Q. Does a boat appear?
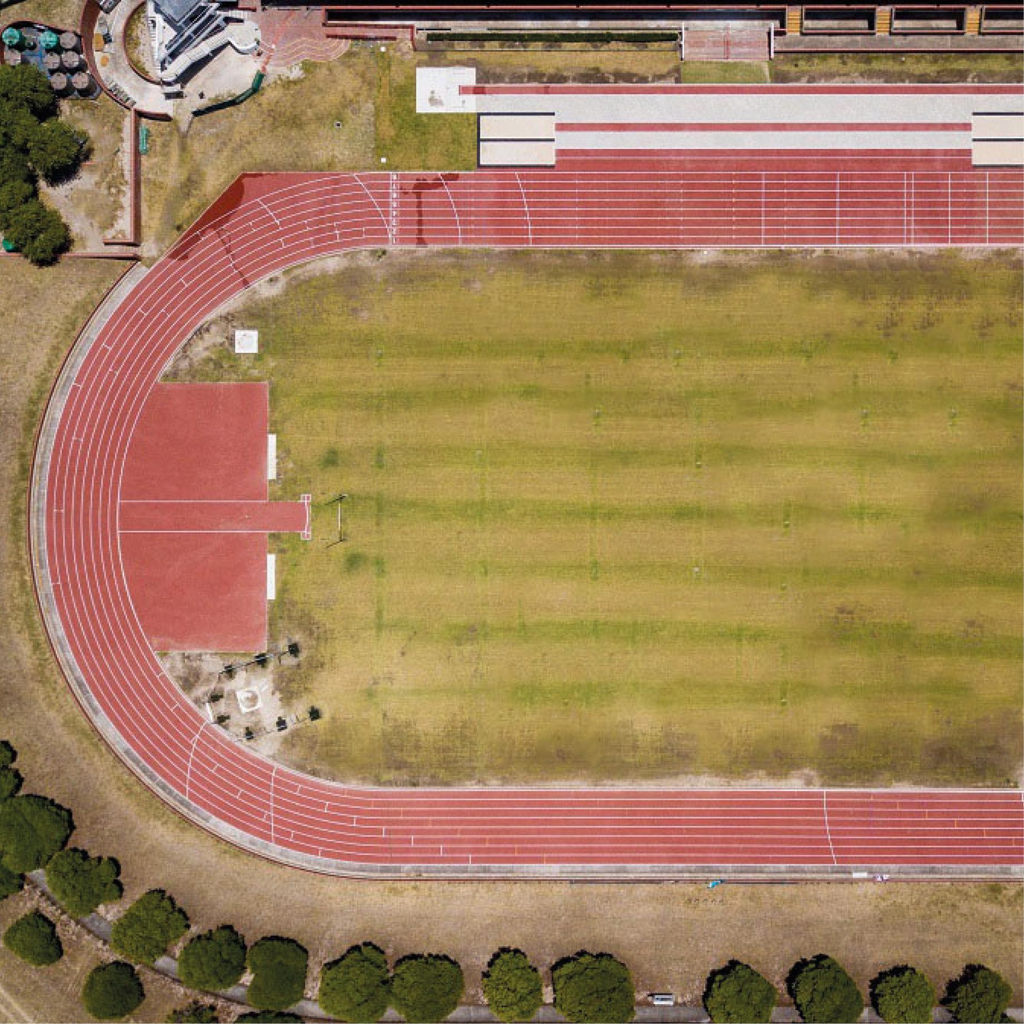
No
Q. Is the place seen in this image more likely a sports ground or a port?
sports ground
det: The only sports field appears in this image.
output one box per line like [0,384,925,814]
[119,246,1024,788]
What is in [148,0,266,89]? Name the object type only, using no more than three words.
building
